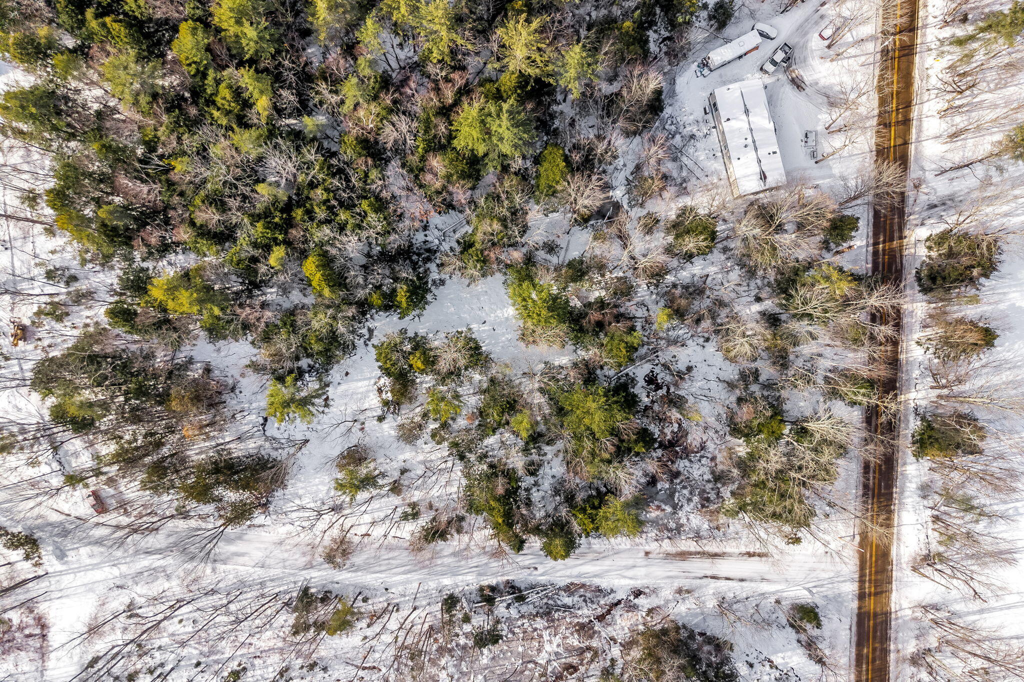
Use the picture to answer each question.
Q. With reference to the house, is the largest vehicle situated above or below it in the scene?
above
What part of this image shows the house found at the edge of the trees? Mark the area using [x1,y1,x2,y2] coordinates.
[710,78,787,196]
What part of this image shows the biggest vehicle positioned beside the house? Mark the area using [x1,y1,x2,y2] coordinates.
[701,28,762,72]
